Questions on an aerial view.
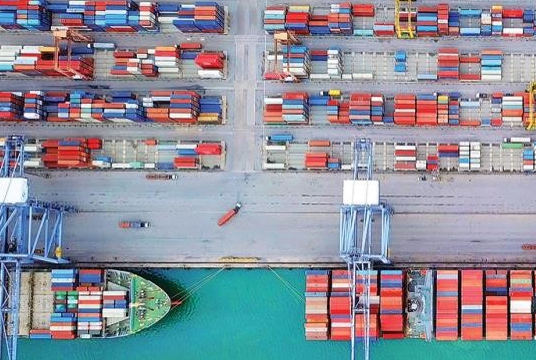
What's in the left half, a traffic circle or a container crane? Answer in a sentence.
Visible in the left half is a container crane.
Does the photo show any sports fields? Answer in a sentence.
No, no sports field is visible in the scene.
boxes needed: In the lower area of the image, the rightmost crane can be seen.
[335,137,397,360]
